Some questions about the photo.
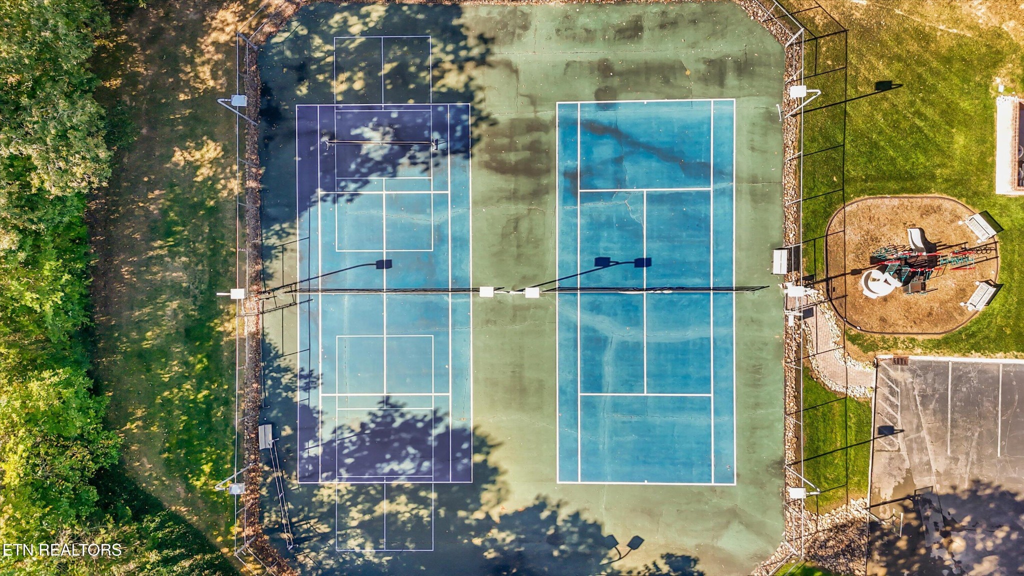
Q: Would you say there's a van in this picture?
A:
No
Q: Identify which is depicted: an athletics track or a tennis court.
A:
tennis court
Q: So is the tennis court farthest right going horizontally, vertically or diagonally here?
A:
vertically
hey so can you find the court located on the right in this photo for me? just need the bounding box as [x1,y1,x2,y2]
[556,99,737,486]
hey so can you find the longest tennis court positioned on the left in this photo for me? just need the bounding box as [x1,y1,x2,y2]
[297,103,473,483]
